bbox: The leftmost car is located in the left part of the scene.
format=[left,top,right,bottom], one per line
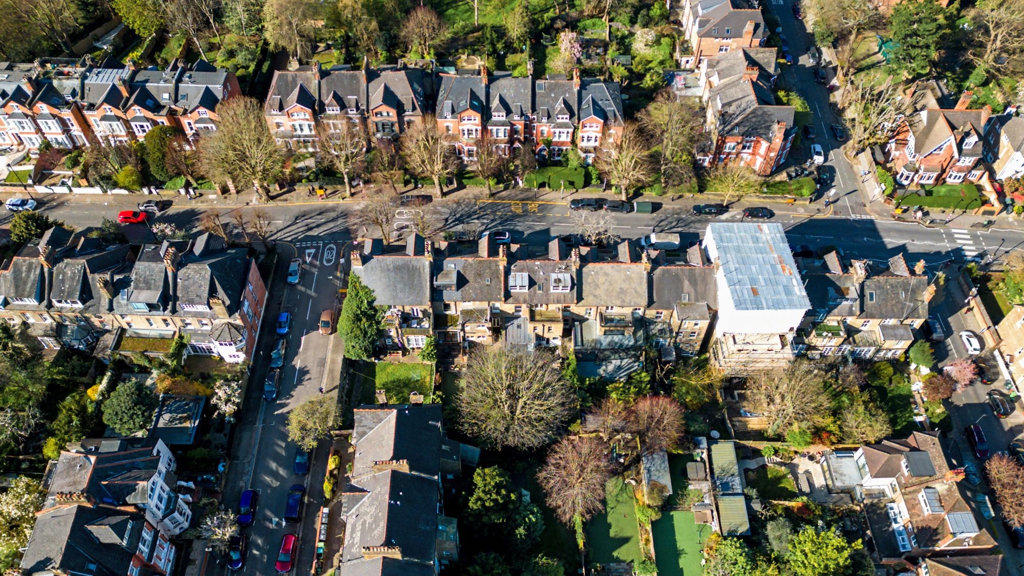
[3,198,38,212]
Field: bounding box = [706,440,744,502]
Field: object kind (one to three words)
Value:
shed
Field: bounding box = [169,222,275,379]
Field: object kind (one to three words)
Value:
house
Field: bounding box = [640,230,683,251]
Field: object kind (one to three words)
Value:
vehicle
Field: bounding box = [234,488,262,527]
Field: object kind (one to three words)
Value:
car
